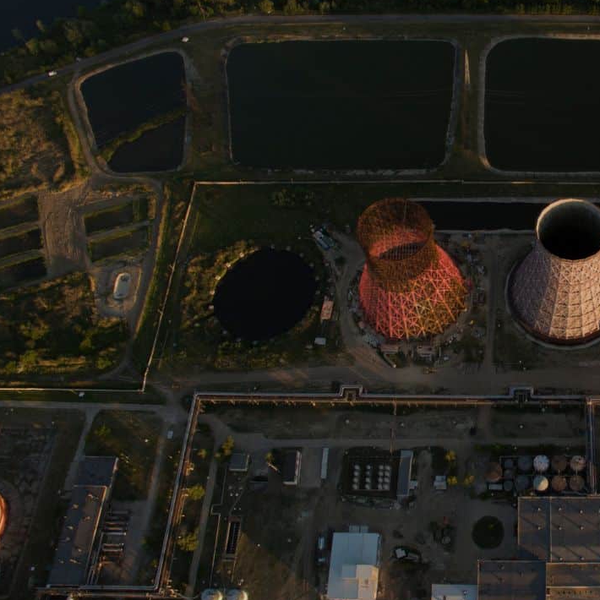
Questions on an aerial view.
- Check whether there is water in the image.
Yes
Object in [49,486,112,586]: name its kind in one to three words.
building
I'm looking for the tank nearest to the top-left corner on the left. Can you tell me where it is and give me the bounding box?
[106,267,135,302]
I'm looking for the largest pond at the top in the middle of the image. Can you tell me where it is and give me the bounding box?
[230,44,454,169]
